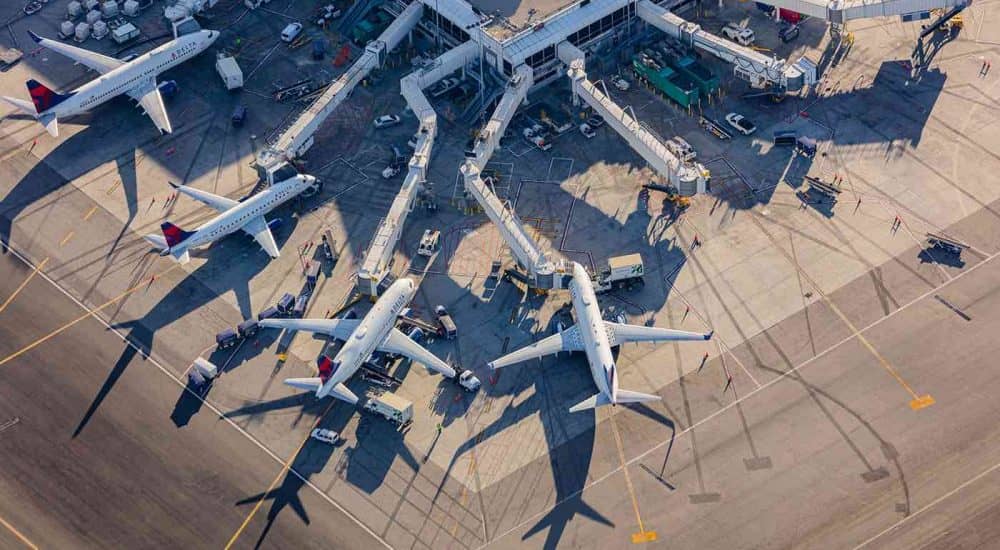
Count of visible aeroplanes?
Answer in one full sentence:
The number of aeroplanes here is 4.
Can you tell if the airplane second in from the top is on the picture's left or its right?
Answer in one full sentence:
You can find the airplane second in from the top on the left side of the picture.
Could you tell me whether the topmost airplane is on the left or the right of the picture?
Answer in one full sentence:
The topmost airplane appears in the left half of the scene.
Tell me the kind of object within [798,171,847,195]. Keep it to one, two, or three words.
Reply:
work vehicle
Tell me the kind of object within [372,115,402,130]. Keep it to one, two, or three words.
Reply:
car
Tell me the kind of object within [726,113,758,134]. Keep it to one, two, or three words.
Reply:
vehicle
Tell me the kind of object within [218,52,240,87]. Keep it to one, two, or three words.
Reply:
truck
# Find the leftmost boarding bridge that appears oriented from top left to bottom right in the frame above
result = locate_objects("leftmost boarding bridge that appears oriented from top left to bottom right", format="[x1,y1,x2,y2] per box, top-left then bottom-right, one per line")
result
[556,43,709,209]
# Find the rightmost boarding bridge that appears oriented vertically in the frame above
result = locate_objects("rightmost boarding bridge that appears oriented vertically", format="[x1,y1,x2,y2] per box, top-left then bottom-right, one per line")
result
[456,68,570,296]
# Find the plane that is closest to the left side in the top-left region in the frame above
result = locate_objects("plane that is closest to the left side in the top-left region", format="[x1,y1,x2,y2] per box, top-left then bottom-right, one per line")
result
[4,31,212,136]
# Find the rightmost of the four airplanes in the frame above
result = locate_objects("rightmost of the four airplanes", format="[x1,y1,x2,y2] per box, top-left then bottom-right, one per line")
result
[484,267,711,411]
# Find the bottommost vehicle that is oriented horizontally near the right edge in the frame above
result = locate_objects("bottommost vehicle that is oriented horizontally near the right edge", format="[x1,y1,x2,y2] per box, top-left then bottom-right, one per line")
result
[921,232,975,252]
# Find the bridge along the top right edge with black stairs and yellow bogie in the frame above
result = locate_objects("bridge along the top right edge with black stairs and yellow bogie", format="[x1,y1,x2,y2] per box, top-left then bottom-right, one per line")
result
[742,0,978,42]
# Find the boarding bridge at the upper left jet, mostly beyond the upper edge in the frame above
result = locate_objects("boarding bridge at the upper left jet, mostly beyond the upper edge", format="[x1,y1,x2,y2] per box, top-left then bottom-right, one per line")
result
[167,0,239,43]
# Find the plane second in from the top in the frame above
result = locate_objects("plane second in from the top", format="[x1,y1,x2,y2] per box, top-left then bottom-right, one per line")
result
[146,179,316,266]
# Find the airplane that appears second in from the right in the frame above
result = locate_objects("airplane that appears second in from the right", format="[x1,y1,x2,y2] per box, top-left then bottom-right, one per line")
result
[257,280,459,404]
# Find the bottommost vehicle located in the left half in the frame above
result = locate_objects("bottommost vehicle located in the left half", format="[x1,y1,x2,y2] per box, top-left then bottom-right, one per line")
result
[309,427,342,444]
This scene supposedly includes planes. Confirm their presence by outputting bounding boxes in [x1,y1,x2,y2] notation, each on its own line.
[146,179,316,266]
[484,267,711,411]
[4,31,212,136]
[257,280,459,404]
